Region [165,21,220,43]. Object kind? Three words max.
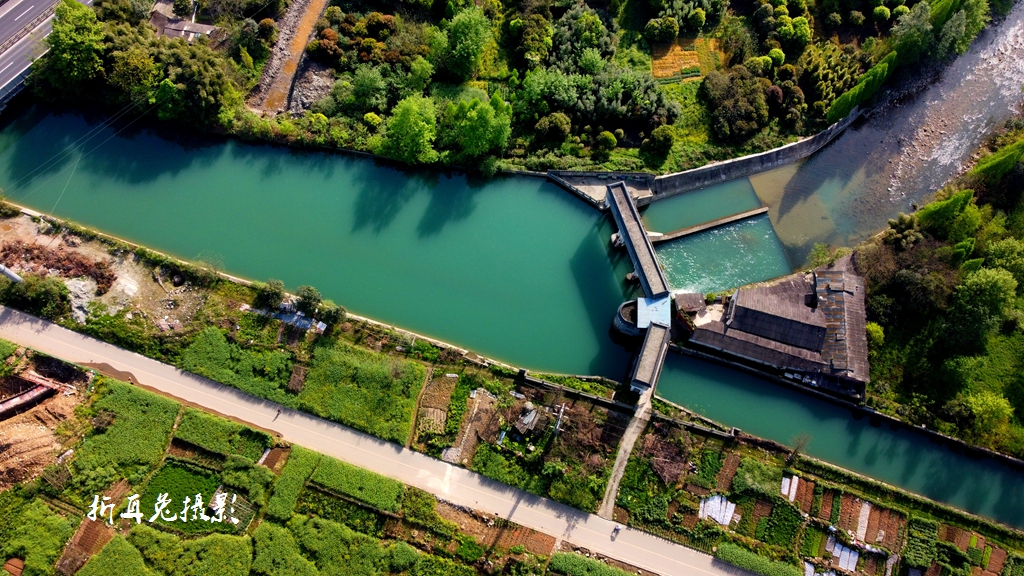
house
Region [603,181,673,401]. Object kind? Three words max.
dam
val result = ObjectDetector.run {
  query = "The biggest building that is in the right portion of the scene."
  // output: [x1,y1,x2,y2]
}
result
[672,248,874,409]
